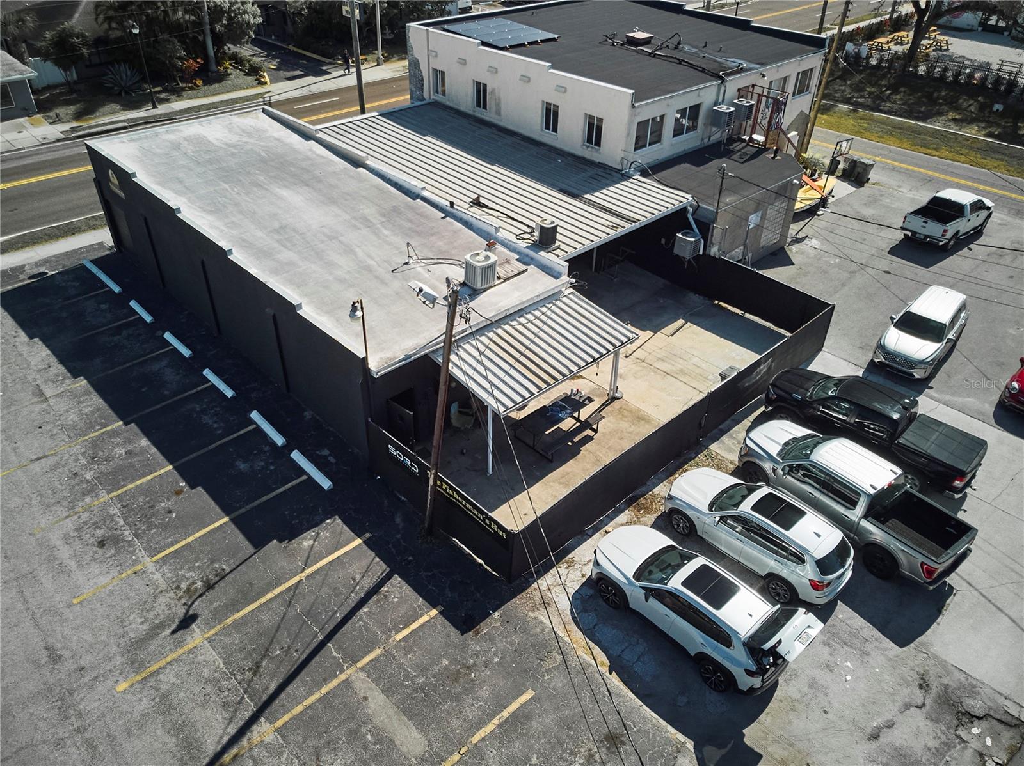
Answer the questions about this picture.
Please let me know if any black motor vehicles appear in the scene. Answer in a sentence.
Yes, a black motor vehicle is visible in the scene.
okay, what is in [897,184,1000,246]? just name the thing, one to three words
truck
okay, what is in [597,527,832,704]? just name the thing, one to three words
car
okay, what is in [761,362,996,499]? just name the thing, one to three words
truck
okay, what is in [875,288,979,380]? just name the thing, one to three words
car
